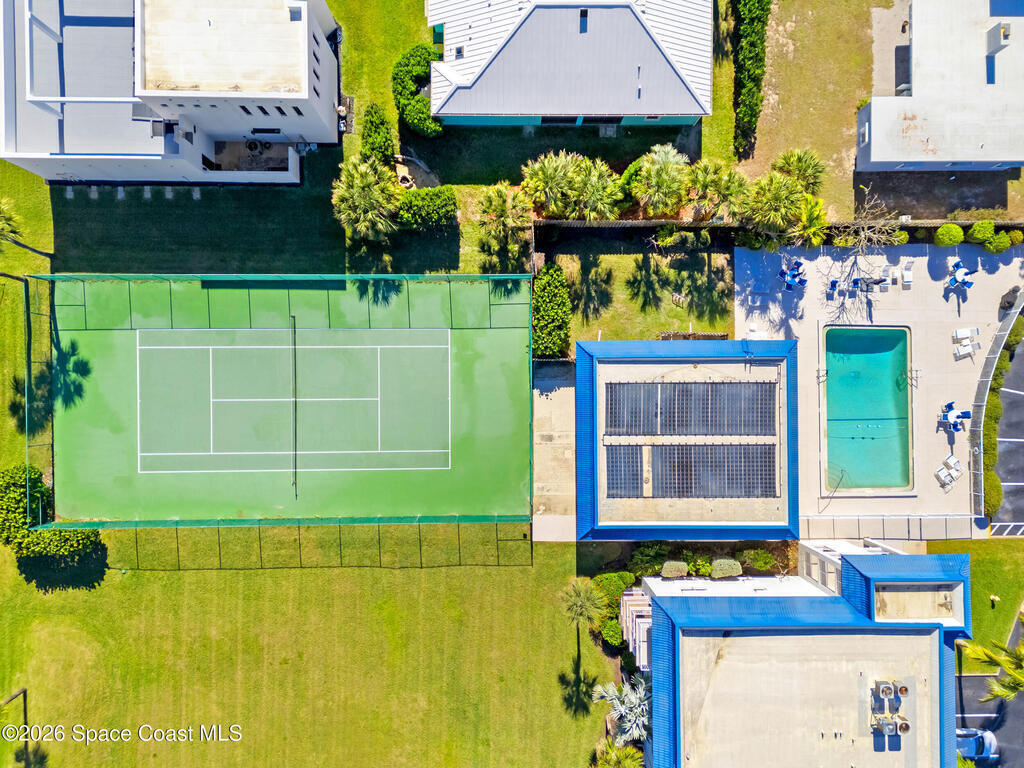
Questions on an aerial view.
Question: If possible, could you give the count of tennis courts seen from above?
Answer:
one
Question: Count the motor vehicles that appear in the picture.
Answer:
1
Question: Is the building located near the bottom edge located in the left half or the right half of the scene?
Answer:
right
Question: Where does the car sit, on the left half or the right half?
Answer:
right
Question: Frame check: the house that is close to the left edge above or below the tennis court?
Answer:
above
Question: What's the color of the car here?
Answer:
blue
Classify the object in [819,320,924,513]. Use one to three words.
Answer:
swimming pool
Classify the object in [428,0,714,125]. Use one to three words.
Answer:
house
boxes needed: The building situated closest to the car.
[620,537,972,768]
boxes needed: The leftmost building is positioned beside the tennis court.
[1,0,337,184]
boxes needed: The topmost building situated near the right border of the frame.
[857,0,1024,170]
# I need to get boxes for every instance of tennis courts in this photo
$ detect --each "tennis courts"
[54,280,532,520]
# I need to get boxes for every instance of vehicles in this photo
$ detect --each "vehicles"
[956,729,995,763]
